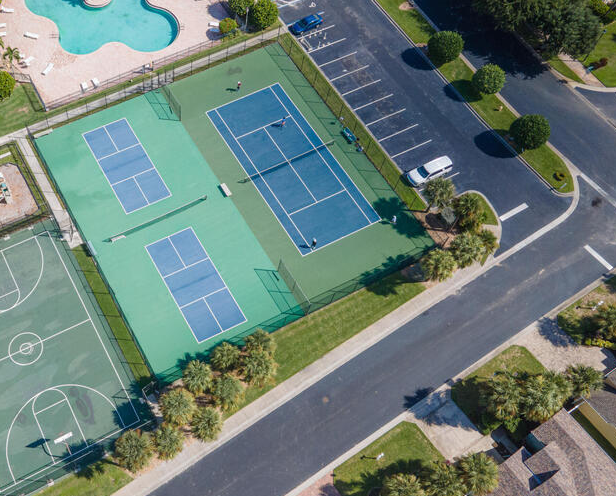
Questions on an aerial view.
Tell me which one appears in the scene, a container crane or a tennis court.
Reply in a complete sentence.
The one in the frame is a tennis court.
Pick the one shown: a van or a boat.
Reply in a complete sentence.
This aerial view contains a van.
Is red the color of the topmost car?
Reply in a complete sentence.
No, the topmost car is actually blue.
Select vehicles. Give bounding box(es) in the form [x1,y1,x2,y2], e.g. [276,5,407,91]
[289,13,324,33]
[410,154,454,184]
